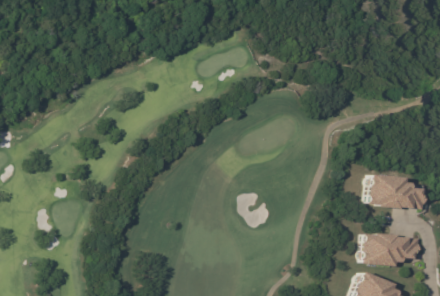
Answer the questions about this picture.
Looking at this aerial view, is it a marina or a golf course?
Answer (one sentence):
What you see here is a golf course.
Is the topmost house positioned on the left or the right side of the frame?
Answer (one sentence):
It is on the right.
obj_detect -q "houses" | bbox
[362,176,428,210]
[345,270,402,296]
[353,234,422,268]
